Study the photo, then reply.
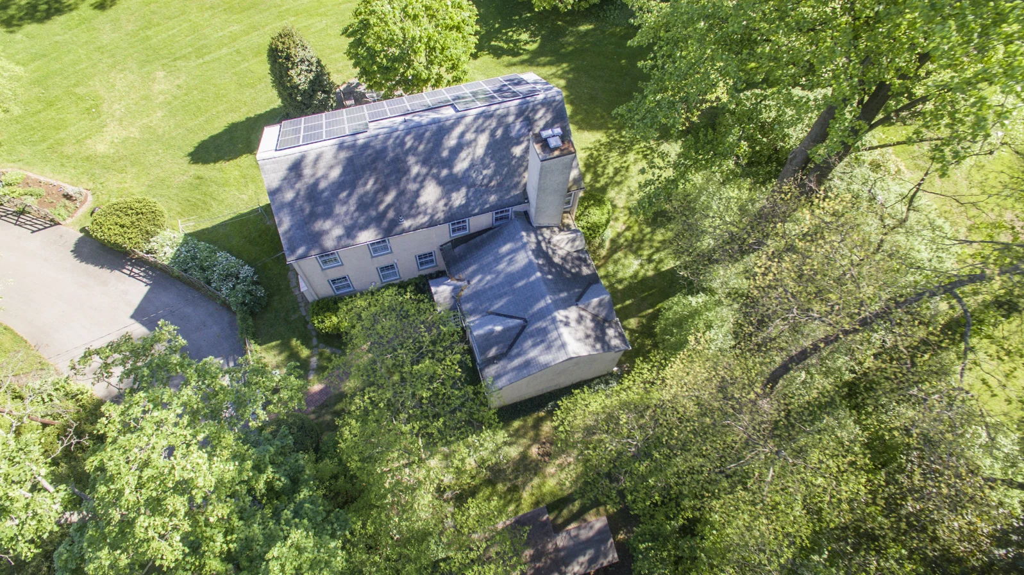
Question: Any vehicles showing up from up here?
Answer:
No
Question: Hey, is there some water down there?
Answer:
No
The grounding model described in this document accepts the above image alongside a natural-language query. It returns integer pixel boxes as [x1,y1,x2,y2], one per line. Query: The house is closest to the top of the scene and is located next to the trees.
[256,72,632,407]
